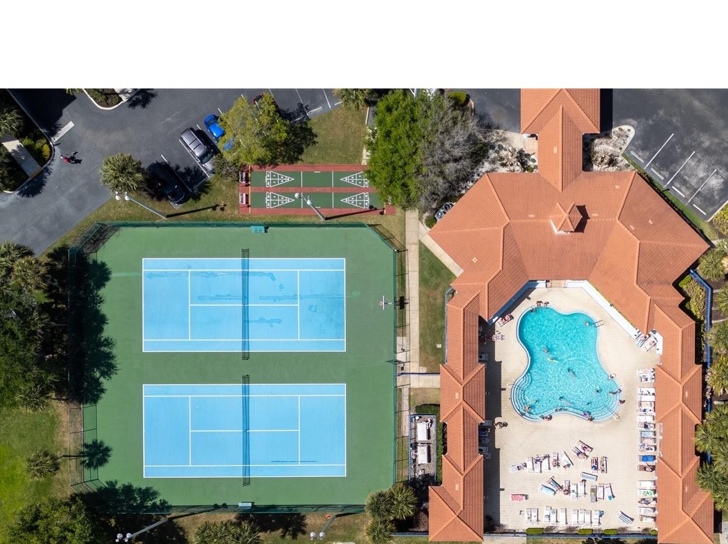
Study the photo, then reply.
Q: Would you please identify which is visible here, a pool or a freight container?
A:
pool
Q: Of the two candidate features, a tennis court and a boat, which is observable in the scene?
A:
tennis court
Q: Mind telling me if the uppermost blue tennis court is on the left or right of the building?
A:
to the left of it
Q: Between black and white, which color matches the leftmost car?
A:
black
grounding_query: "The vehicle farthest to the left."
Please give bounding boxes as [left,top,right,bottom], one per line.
[146,160,185,203]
